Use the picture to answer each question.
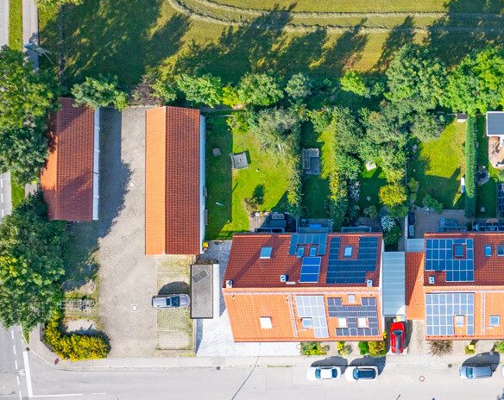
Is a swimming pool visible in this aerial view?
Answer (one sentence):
No, I can see no swimming pool in this picture.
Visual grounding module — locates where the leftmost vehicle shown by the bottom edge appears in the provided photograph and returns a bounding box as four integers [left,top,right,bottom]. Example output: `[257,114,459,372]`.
[307,365,343,382]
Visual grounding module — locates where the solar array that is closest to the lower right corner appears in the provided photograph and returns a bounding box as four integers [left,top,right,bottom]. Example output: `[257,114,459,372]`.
[426,294,475,336]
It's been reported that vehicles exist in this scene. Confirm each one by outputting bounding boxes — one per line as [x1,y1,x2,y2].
[346,365,380,382]
[154,294,191,310]
[459,364,493,380]
[307,365,343,382]
[389,321,405,354]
